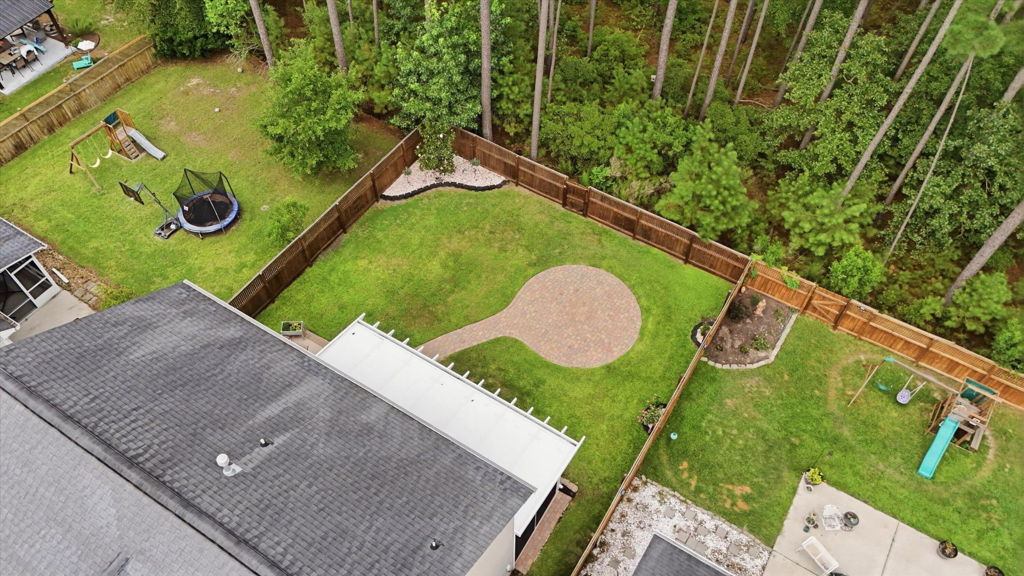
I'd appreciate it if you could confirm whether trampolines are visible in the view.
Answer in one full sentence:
Yes, a trampoline can be made out from above.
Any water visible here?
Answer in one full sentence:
No, the picture contains no water.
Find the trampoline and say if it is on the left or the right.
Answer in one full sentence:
The trampoline is on the left side of the image.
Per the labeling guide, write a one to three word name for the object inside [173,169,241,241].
trampoline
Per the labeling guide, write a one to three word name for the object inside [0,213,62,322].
house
